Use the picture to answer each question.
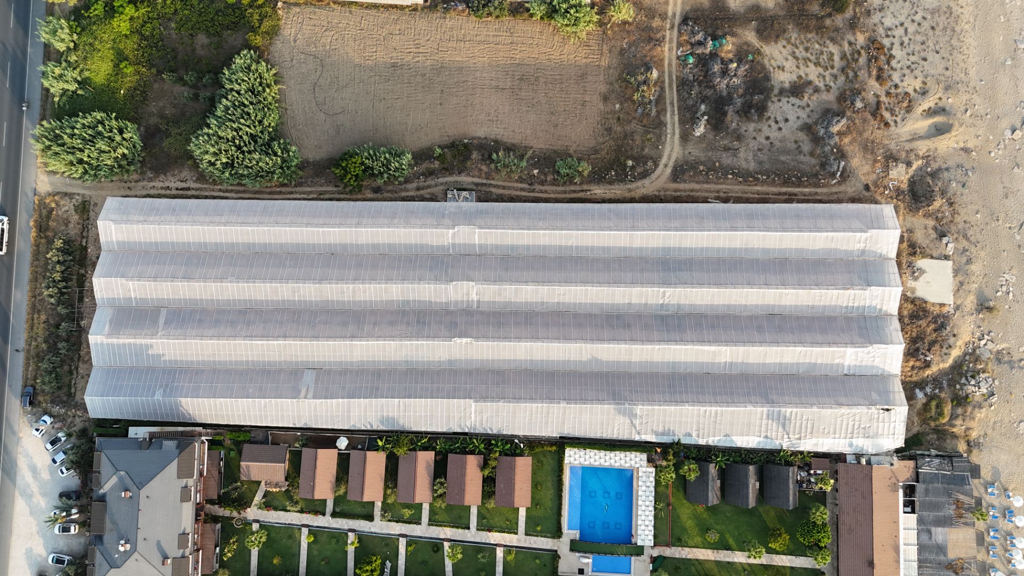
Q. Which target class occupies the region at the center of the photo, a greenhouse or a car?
greenhouse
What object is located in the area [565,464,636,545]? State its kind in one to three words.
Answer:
swimming pool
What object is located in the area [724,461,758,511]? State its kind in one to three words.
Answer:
shed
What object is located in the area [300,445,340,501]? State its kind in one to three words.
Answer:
house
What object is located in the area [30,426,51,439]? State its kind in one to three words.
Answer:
vehicle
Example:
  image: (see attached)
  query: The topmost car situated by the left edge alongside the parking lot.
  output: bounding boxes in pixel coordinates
[21,385,36,409]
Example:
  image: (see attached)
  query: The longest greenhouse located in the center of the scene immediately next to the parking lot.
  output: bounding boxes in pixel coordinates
[84,197,908,454]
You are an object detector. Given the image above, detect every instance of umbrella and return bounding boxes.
[1013,515,1024,526]
[336,437,348,449]
[1009,558,1024,570]
[1010,536,1024,548]
[1007,548,1021,558]
[1010,495,1023,506]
